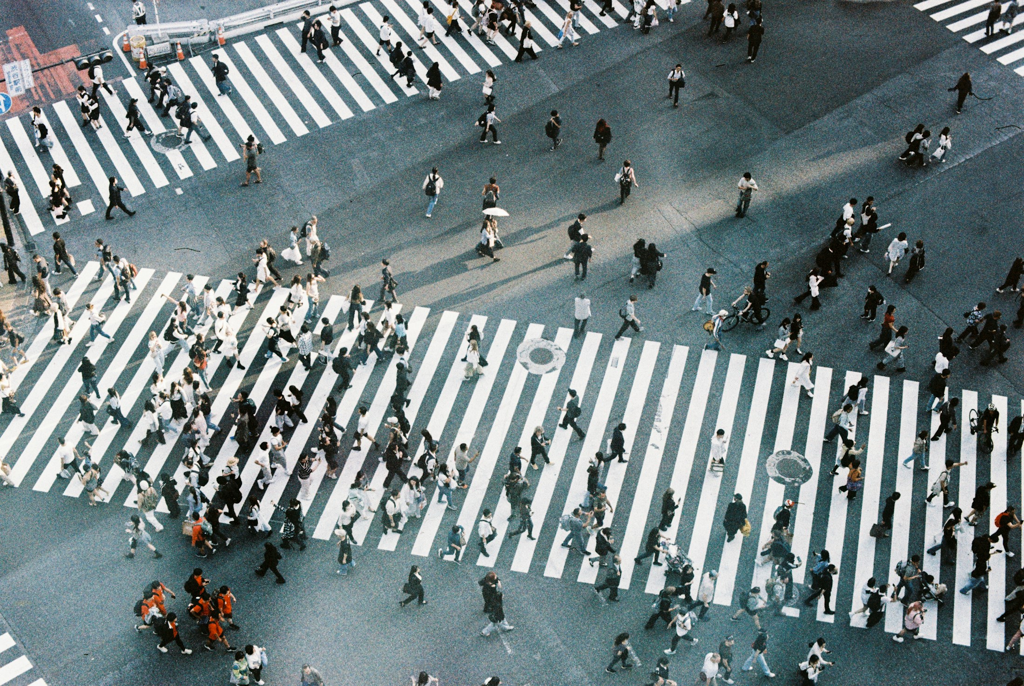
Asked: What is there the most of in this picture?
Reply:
paved ground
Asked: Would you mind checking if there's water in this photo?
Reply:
No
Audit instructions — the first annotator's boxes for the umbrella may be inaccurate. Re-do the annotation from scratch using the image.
[480,207,512,221]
